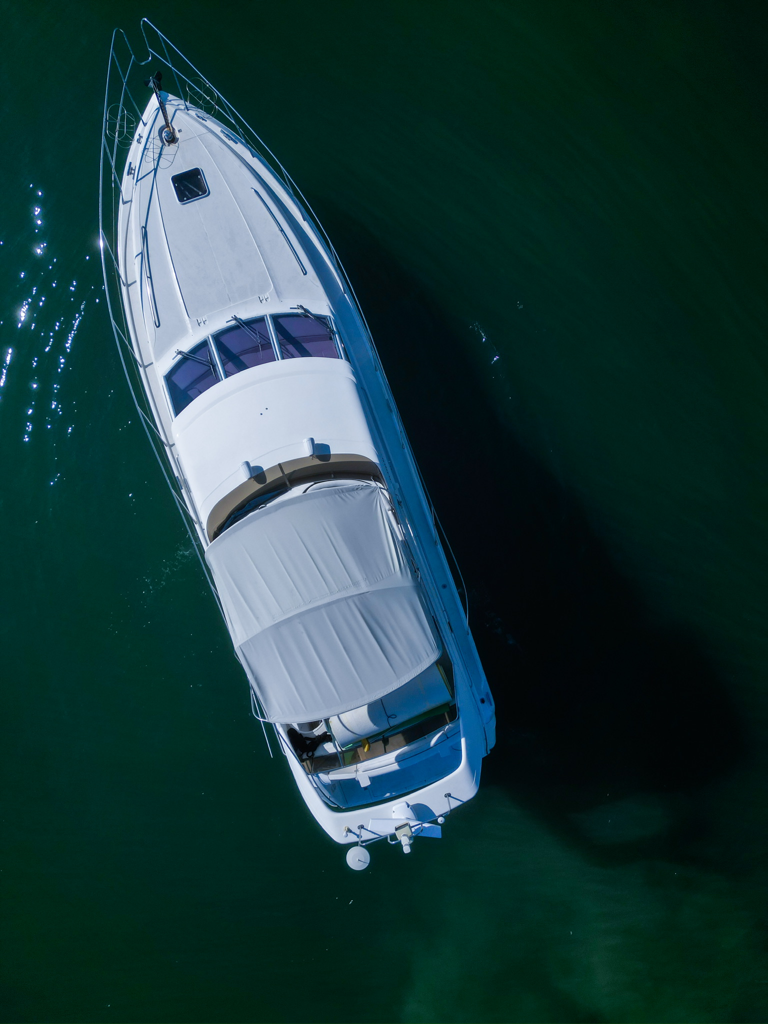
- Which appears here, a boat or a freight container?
boat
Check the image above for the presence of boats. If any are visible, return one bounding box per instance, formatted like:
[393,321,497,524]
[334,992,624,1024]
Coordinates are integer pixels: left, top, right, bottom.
[99,18,498,867]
